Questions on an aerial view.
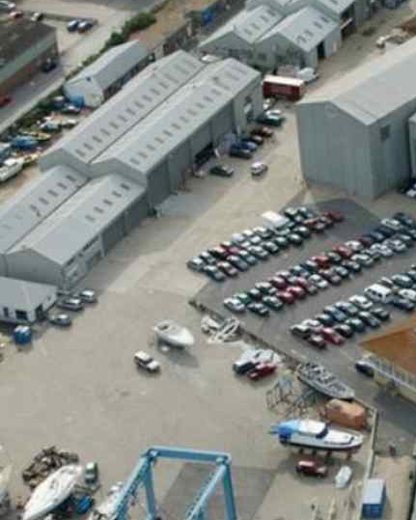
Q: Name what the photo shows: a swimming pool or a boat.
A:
boat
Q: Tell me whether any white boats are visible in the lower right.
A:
Yes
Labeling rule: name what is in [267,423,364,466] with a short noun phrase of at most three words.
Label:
boat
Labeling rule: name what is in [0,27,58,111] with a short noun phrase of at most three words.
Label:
building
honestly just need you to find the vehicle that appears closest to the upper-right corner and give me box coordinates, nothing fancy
[369,26,394,45]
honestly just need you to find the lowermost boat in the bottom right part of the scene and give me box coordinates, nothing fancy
[333,466,352,492]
